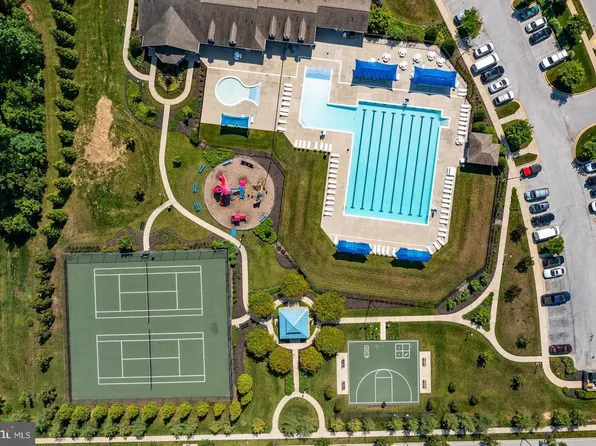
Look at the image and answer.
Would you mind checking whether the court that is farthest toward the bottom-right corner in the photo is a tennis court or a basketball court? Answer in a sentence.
The court that is farthest toward the bottom-right corner in the image is a basketball court.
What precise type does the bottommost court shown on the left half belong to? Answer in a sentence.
Specifically, the bottommost court shown on the left half is a tennis court.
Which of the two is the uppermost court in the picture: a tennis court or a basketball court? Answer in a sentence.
I'd identify the uppermost court as a tennis court.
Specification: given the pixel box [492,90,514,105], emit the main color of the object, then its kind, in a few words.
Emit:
white car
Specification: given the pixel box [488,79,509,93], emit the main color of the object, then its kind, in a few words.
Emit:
white car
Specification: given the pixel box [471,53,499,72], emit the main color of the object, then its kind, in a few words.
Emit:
white vehicle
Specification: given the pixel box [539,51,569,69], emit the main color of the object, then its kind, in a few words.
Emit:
white vehicle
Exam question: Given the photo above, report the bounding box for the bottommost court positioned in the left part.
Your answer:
[69,324,232,401]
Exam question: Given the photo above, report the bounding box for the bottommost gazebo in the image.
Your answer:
[279,307,309,338]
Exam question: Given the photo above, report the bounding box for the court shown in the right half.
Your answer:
[348,340,419,404]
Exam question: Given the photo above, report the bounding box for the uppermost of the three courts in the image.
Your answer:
[66,249,229,327]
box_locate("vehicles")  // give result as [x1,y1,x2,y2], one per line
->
[539,51,569,69]
[471,53,499,72]
[488,79,509,93]
[516,8,539,23]
[523,19,545,34]
[527,29,551,44]
[584,176,596,186]
[531,228,560,241]
[524,189,548,200]
[450,9,471,25]
[527,203,549,213]
[542,268,565,278]
[492,90,514,105]
[471,44,493,58]
[540,293,569,305]
[480,66,503,82]
[547,344,571,355]
[540,256,563,267]
[530,214,554,225]
[519,164,542,176]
